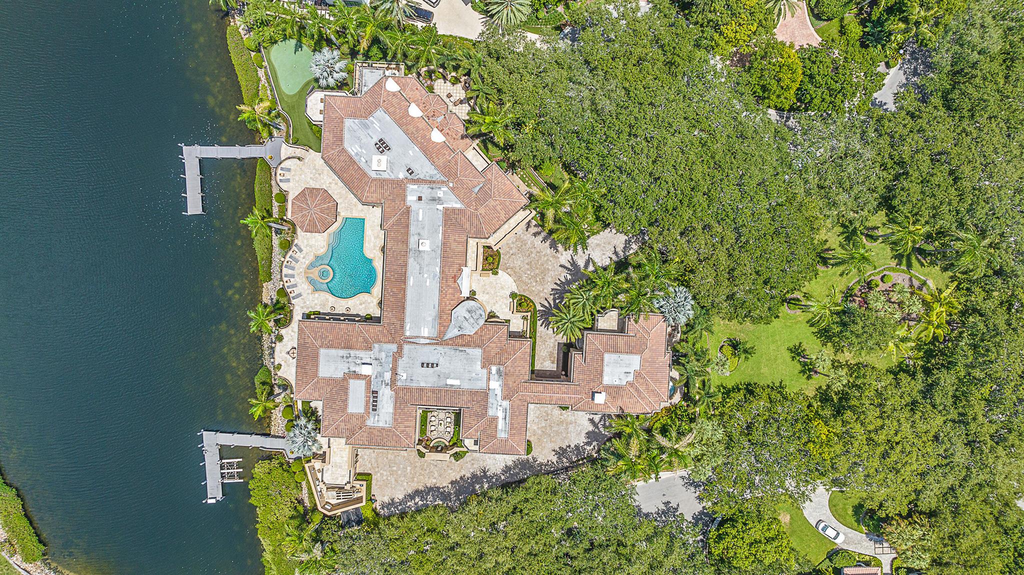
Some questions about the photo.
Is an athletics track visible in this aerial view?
No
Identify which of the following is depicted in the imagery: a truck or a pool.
pool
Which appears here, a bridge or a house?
house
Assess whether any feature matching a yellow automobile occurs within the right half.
No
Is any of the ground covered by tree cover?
Yes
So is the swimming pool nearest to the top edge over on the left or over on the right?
left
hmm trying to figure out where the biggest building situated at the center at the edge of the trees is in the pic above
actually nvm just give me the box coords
[294,61,672,456]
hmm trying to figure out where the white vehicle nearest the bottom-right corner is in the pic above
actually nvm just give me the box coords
[815,518,848,547]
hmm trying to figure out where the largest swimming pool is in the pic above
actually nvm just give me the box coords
[301,214,381,302]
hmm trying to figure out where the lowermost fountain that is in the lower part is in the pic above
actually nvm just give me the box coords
[430,437,449,452]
